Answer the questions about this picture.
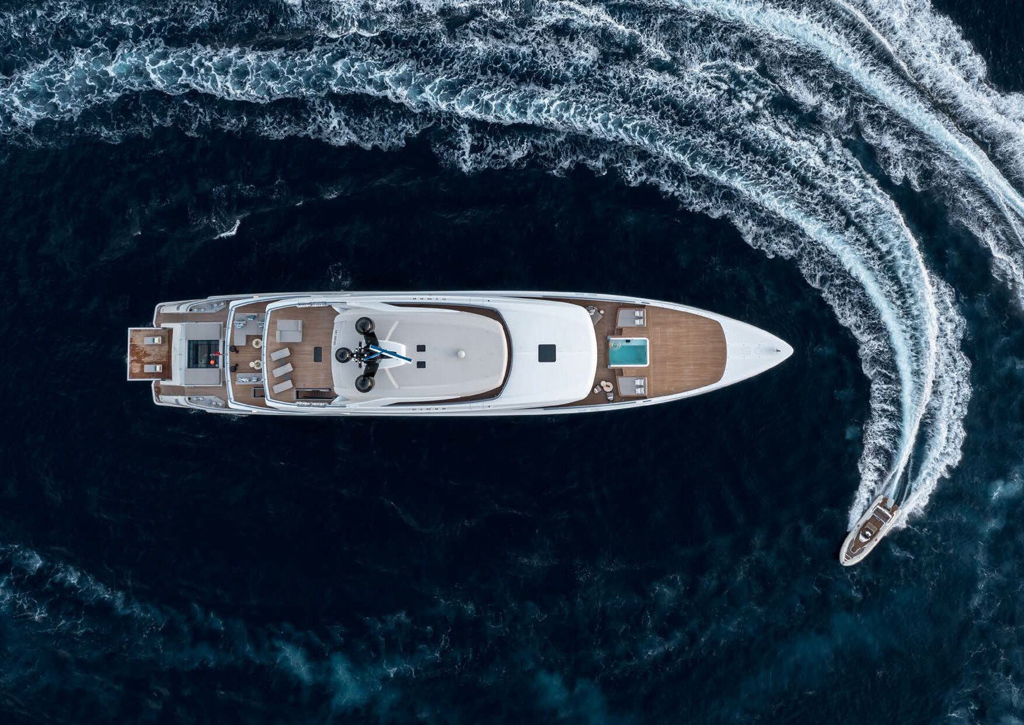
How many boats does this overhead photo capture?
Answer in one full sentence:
The picture shows 2 boats.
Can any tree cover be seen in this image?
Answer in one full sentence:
No, no tree cover is visible.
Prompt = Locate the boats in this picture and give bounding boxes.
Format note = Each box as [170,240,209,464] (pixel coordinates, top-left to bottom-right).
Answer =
[844,496,903,567]
[127,291,793,416]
